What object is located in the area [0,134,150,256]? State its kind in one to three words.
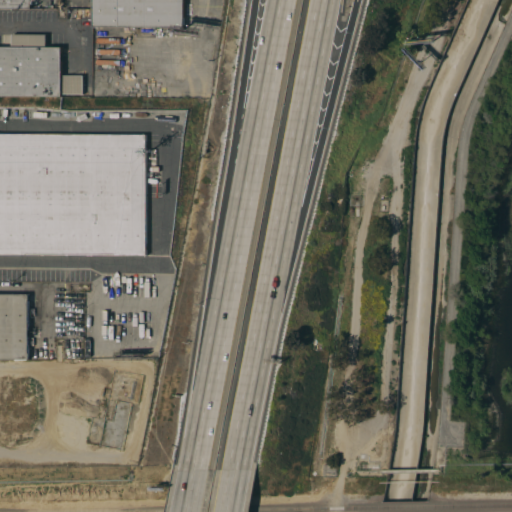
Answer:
warehouse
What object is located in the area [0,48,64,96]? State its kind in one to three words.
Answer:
building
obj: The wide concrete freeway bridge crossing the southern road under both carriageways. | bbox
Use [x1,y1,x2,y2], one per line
[165,470,257,512]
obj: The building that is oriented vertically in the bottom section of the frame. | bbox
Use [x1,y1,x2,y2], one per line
[0,294,31,360]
